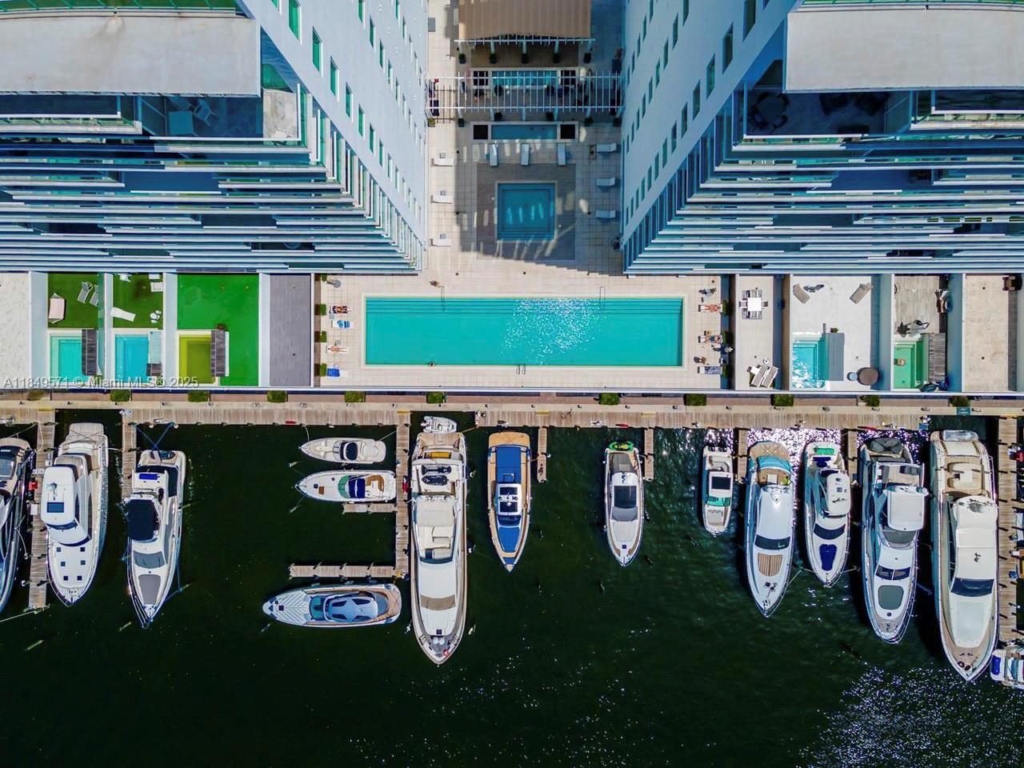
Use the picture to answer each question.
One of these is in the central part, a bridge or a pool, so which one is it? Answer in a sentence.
You can see a pool in the central part.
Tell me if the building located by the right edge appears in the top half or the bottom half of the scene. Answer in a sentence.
It is in the top half that the building located by the right edge appears.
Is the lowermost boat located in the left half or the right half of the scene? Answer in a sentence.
It is on the right.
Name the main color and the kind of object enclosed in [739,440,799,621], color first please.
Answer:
white boat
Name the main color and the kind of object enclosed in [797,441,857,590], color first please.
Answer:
white boat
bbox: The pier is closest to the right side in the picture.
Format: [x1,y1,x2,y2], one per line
[992,414,1019,644]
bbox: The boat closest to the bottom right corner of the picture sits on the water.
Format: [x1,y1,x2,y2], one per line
[989,647,1024,688]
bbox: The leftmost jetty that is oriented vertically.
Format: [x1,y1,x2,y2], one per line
[28,425,60,608]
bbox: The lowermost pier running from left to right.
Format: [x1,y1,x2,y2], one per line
[290,565,396,577]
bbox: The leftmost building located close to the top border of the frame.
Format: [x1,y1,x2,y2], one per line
[0,0,428,270]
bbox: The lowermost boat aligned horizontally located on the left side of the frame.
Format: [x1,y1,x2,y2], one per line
[261,578,405,628]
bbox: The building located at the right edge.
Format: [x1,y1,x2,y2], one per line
[623,0,1024,272]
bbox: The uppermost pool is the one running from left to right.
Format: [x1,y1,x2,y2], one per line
[491,70,557,86]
